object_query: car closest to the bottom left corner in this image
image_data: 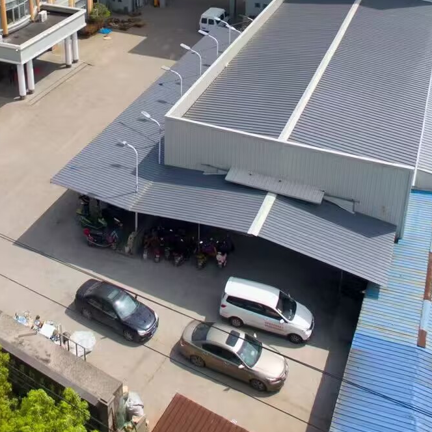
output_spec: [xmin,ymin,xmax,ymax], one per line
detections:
[73,283,160,344]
